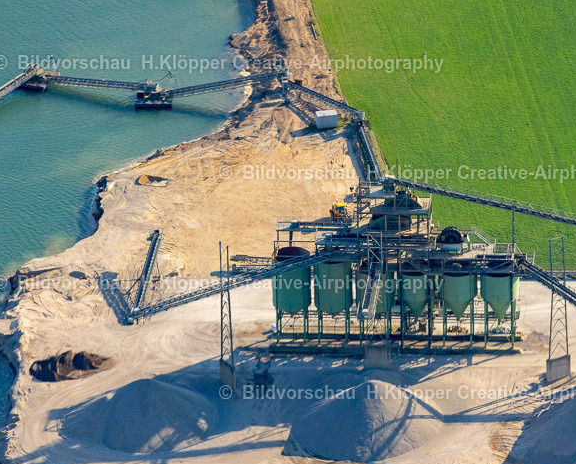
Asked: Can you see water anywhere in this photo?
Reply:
Yes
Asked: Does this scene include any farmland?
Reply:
Yes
